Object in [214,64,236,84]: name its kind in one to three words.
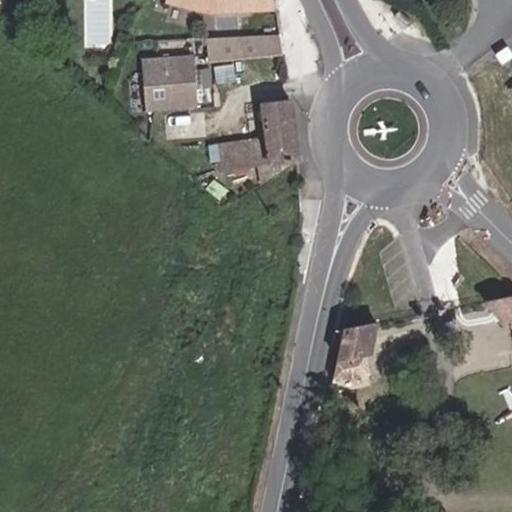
shed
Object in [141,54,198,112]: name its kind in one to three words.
house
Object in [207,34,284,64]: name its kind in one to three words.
building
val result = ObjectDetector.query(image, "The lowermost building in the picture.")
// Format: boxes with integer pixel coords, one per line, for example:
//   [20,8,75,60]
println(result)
[332,323,380,390]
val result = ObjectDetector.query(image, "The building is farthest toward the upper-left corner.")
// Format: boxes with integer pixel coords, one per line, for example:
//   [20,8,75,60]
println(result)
[82,0,114,48]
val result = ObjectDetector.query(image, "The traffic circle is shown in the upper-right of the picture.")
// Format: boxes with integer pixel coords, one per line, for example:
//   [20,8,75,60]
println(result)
[311,46,478,212]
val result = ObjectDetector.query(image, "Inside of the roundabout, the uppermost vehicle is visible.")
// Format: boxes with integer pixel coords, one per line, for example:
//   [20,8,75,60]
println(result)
[415,79,432,100]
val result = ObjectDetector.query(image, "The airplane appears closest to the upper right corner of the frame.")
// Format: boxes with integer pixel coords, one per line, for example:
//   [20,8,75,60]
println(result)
[364,121,399,141]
